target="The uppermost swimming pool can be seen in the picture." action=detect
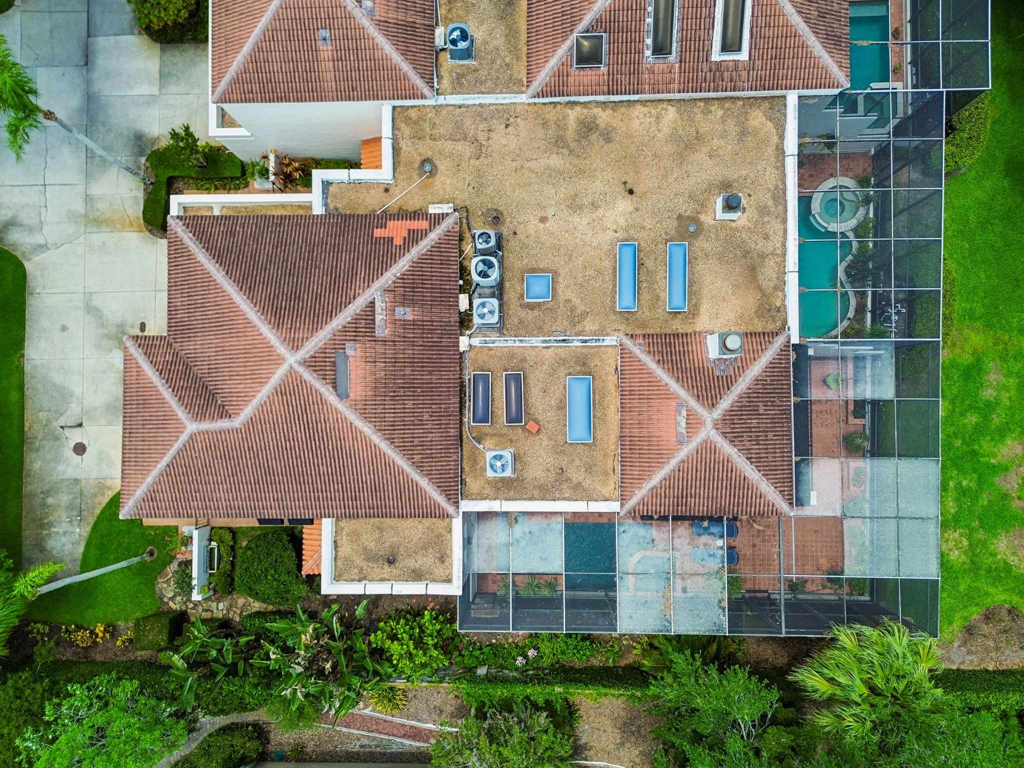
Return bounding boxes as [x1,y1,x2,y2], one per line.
[832,2,902,131]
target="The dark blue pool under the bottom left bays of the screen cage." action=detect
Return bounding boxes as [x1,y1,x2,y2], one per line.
[496,512,681,598]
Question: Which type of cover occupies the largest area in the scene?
buildings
